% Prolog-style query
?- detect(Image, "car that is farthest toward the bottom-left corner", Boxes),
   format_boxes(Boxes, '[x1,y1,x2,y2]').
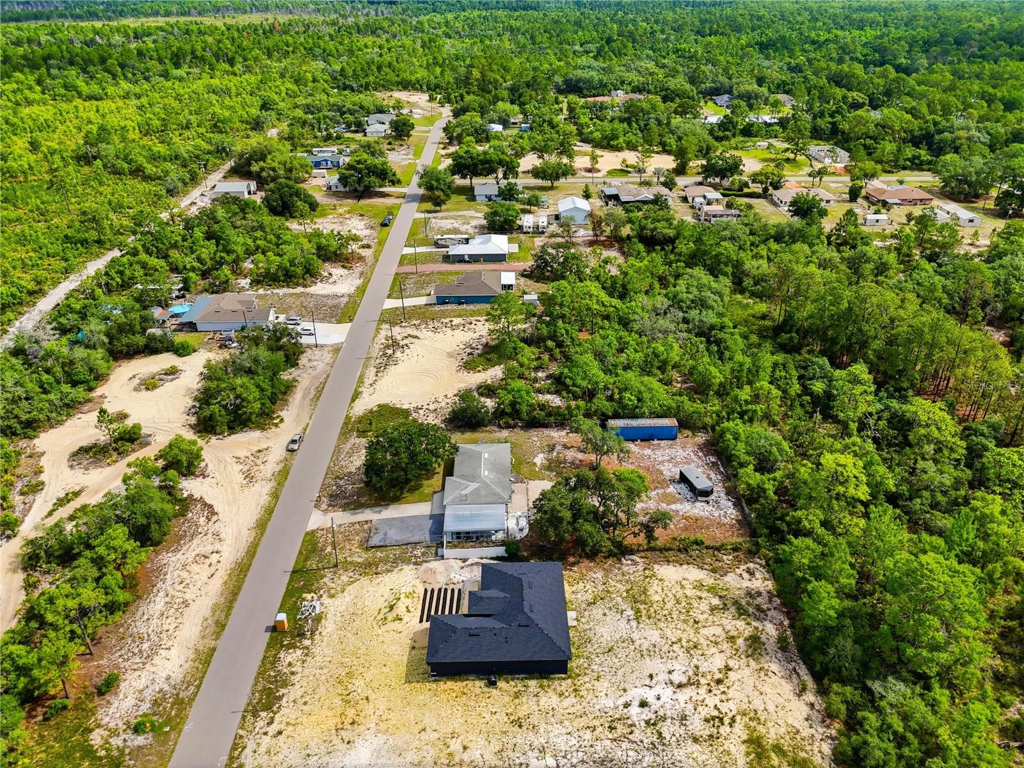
[284,432,305,451]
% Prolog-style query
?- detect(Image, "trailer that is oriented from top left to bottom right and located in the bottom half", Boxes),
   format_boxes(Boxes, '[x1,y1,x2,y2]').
[676,465,710,505]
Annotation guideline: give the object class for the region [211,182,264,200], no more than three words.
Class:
building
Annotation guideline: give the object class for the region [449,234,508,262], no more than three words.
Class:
house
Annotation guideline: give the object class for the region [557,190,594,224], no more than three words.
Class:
building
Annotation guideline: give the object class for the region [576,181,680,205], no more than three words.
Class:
house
